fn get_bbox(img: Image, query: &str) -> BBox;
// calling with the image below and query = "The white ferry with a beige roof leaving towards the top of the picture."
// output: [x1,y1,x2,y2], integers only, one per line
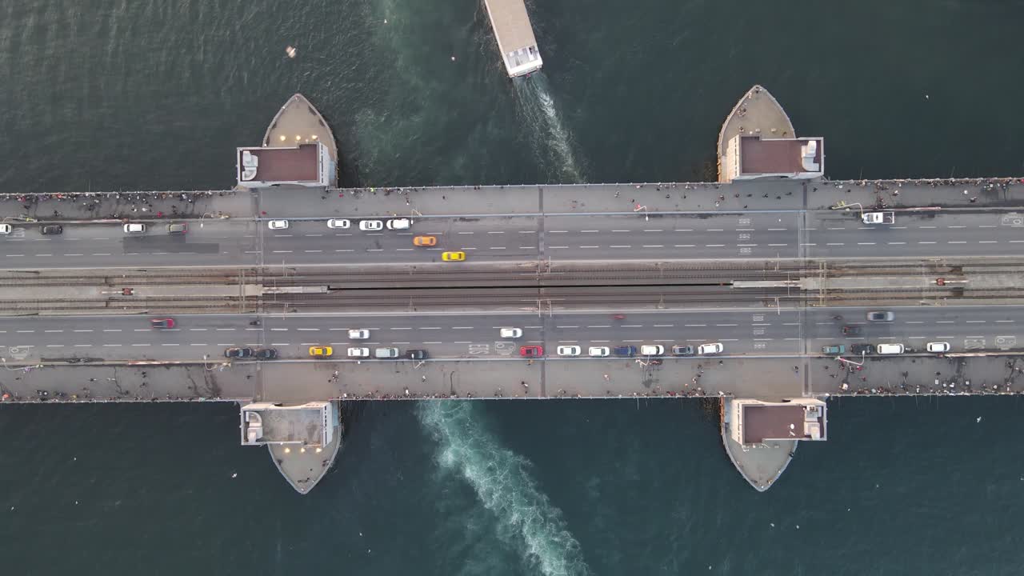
[482,0,540,79]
